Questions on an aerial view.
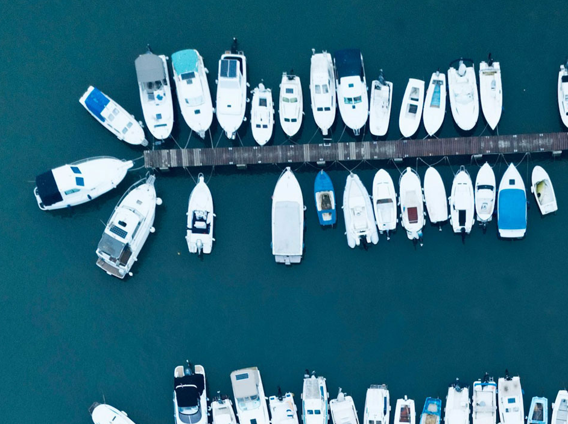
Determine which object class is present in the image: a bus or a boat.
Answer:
boat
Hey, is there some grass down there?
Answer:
No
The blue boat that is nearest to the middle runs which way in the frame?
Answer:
vertically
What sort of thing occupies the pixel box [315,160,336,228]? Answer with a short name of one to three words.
boat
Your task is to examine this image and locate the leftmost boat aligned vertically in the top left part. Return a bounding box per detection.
[136,44,173,151]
